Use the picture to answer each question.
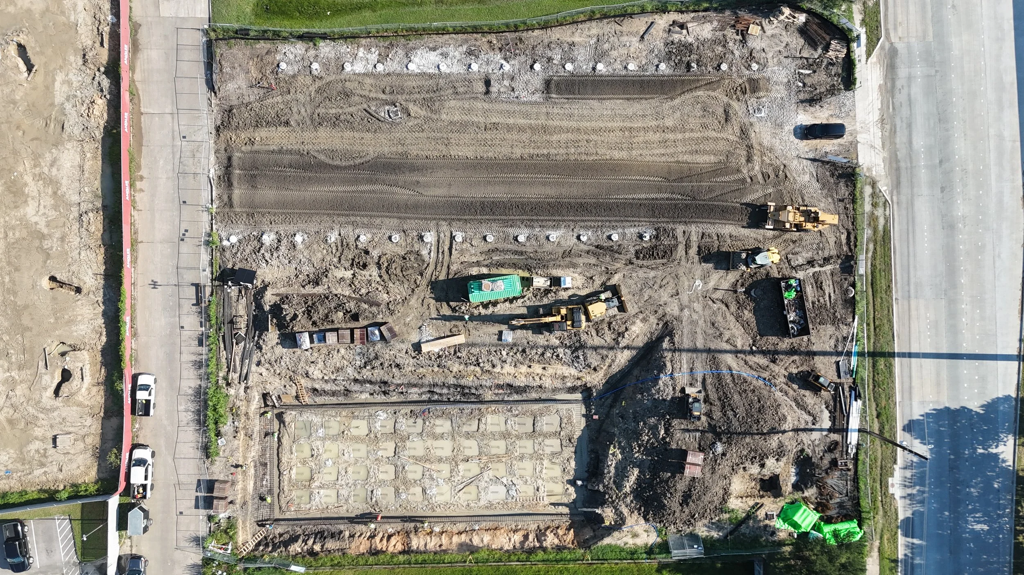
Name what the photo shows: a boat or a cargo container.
cargo container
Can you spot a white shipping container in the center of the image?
No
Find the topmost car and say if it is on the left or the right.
right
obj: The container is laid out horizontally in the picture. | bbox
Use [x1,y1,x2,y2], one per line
[468,275,522,302]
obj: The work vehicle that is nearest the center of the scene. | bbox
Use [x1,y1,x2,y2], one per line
[511,305,585,331]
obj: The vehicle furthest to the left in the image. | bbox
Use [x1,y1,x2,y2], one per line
[5,516,34,571]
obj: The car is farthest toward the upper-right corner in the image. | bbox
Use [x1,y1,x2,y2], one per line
[801,121,846,142]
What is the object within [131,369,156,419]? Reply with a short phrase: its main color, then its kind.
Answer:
white truck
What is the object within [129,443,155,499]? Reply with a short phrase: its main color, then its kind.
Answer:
white truck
